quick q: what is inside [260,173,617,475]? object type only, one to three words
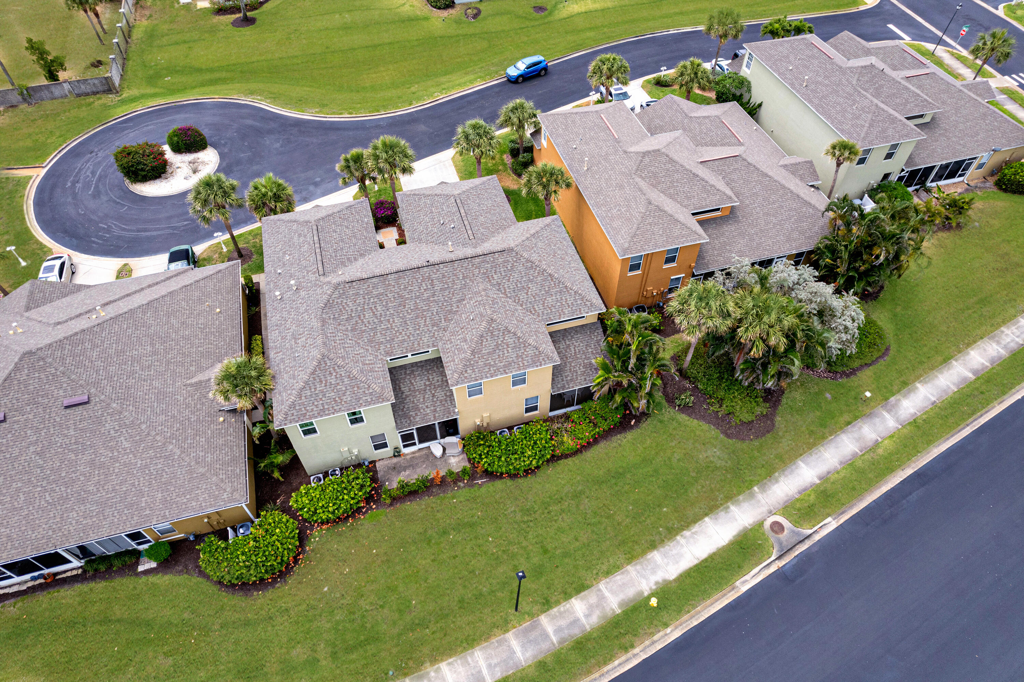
house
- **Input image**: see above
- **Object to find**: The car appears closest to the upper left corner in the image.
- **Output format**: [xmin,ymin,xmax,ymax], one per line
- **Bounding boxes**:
[46,246,86,271]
